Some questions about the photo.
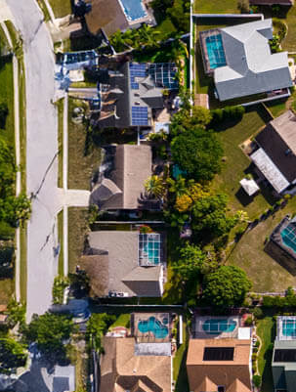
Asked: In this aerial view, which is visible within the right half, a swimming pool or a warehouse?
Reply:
swimming pool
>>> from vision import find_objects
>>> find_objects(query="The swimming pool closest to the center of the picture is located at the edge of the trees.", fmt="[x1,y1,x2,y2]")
[140,233,160,266]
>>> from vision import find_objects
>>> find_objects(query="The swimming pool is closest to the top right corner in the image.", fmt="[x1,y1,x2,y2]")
[193,30,226,81]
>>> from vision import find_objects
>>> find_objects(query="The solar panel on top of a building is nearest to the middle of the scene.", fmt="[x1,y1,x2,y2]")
[130,107,147,122]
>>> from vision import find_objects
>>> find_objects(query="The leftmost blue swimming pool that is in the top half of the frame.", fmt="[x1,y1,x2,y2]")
[123,0,153,25]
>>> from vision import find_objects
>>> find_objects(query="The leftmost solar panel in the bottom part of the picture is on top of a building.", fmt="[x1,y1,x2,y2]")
[204,347,233,360]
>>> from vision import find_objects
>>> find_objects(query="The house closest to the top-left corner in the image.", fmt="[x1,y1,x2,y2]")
[82,0,132,46]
